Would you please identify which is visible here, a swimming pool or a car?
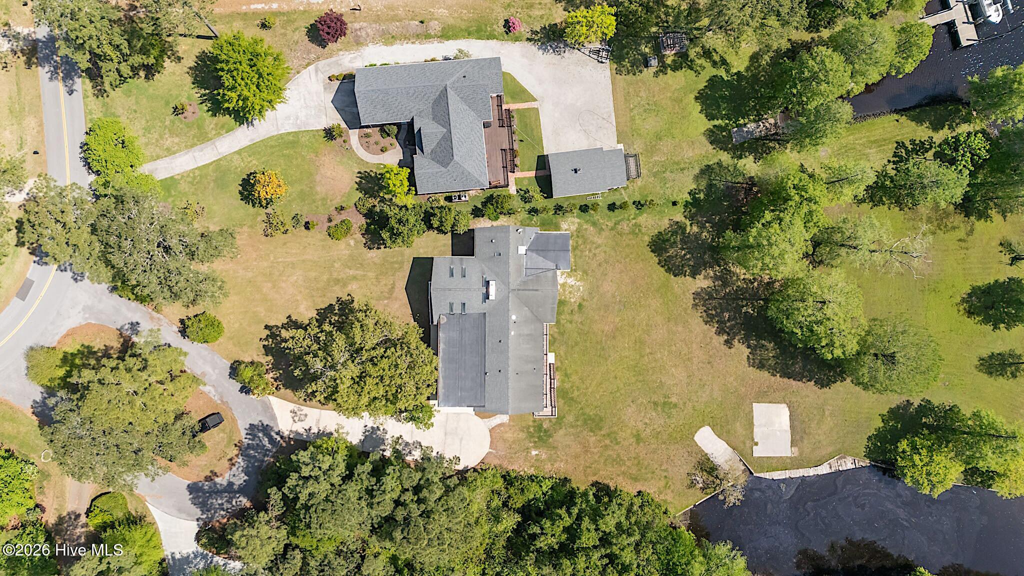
car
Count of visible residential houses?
2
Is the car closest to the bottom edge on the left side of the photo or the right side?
left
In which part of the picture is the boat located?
top right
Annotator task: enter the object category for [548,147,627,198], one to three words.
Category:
building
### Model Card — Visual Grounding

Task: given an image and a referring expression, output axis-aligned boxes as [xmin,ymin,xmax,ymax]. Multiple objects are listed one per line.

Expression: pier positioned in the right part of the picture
[918,0,986,50]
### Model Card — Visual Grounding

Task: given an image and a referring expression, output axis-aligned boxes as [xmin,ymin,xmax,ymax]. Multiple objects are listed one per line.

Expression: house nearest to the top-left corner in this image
[355,56,515,195]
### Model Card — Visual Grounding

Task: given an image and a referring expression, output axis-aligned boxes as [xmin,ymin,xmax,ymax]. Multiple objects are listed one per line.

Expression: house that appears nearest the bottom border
[429,227,571,418]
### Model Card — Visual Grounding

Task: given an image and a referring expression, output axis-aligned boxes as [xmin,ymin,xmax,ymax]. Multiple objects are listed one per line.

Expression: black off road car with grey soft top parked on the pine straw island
[193,412,224,437]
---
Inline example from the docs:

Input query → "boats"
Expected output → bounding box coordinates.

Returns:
[976,0,1002,27]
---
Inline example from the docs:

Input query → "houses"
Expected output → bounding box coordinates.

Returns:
[355,56,515,195]
[429,227,571,418]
